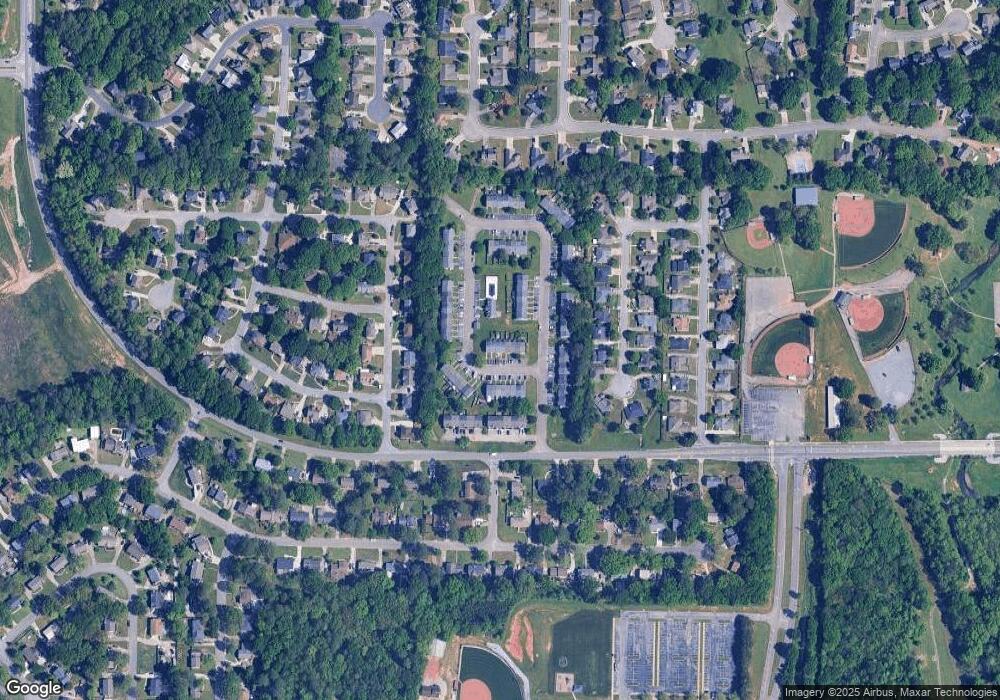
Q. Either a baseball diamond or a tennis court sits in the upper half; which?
baseball diamond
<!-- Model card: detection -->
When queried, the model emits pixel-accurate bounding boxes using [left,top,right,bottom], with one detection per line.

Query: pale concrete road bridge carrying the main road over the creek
[934,435,1000,461]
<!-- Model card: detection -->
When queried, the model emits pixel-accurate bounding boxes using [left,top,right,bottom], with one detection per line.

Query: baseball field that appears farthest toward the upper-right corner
[838,194,908,269]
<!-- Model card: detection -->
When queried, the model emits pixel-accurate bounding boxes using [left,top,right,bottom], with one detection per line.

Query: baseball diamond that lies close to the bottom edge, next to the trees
[461,645,523,700]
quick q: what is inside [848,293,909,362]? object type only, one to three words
baseball field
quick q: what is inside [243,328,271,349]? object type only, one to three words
house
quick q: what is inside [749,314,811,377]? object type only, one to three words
baseball field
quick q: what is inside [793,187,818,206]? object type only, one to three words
building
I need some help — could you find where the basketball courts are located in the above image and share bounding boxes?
[788,150,811,173]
